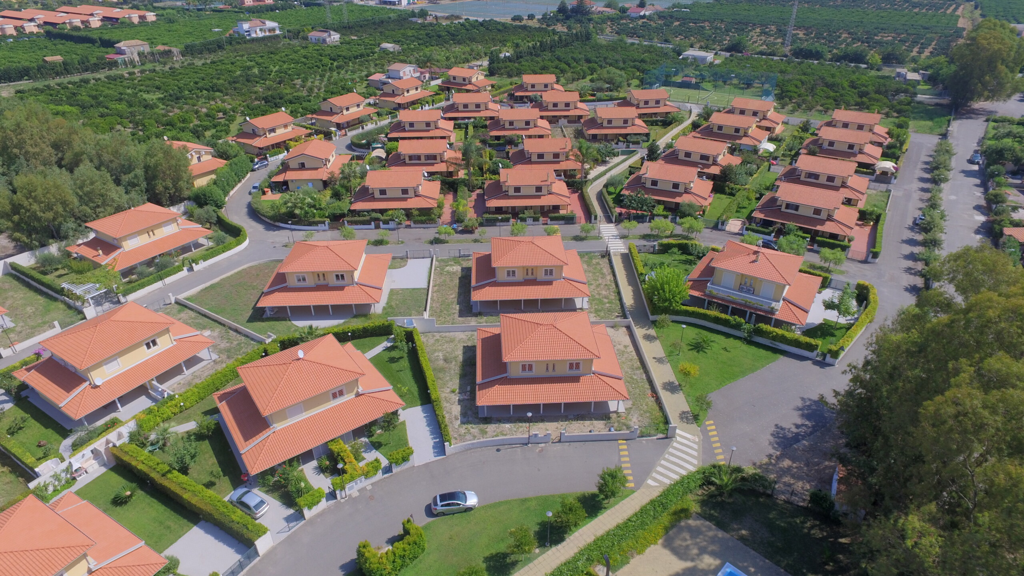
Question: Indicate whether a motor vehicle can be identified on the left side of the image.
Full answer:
Yes, a motor vehicle is visible on the left side of the image.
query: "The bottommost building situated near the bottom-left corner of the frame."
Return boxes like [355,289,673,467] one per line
[0,484,173,576]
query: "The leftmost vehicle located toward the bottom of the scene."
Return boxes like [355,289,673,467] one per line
[228,487,266,518]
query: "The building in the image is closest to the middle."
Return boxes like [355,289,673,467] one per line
[471,228,591,314]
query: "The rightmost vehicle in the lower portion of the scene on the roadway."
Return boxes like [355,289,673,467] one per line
[430,488,472,513]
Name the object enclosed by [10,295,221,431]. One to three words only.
house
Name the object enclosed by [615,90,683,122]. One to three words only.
house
